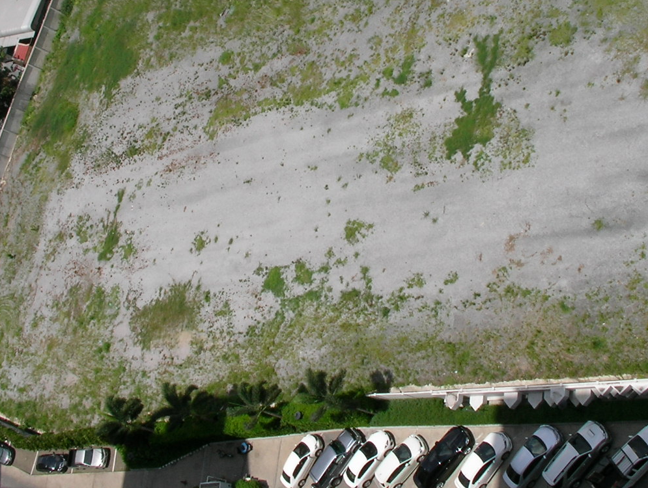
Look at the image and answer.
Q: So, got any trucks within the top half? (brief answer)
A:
No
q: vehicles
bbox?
[68,444,114,471]
[415,421,480,488]
[591,419,648,488]
[36,451,71,477]
[277,428,325,488]
[375,429,432,488]
[310,418,367,488]
[507,417,570,488]
[344,426,397,488]
[542,414,616,488]
[461,428,521,488]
